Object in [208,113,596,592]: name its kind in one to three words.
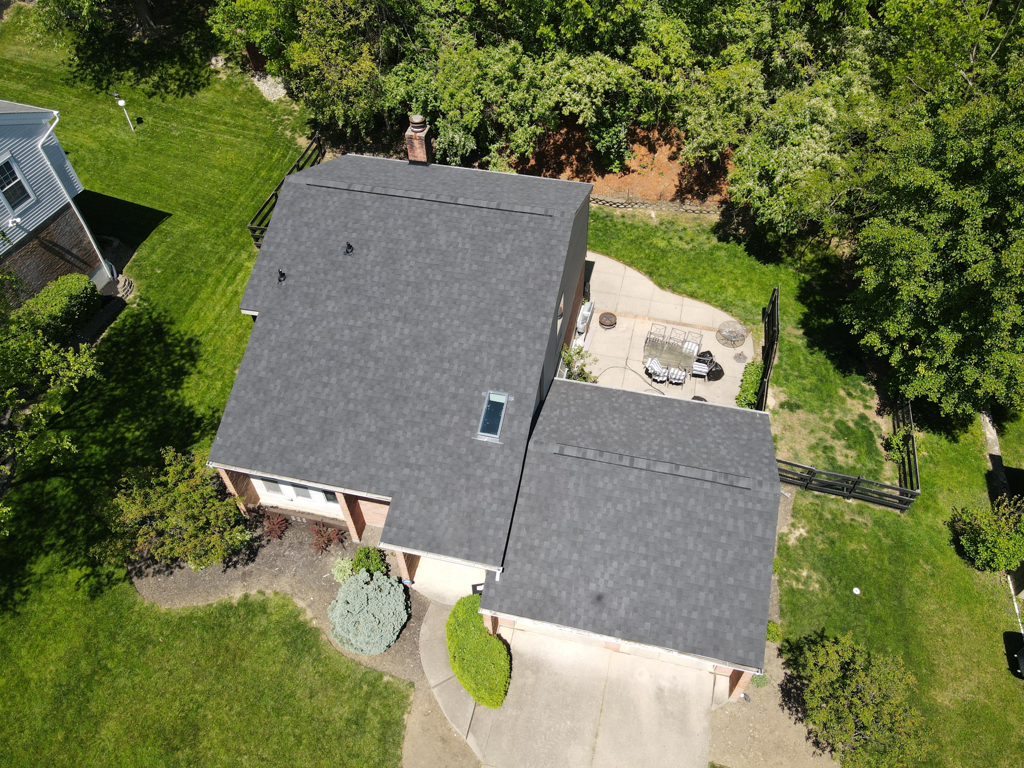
house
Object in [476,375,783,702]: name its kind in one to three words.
building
